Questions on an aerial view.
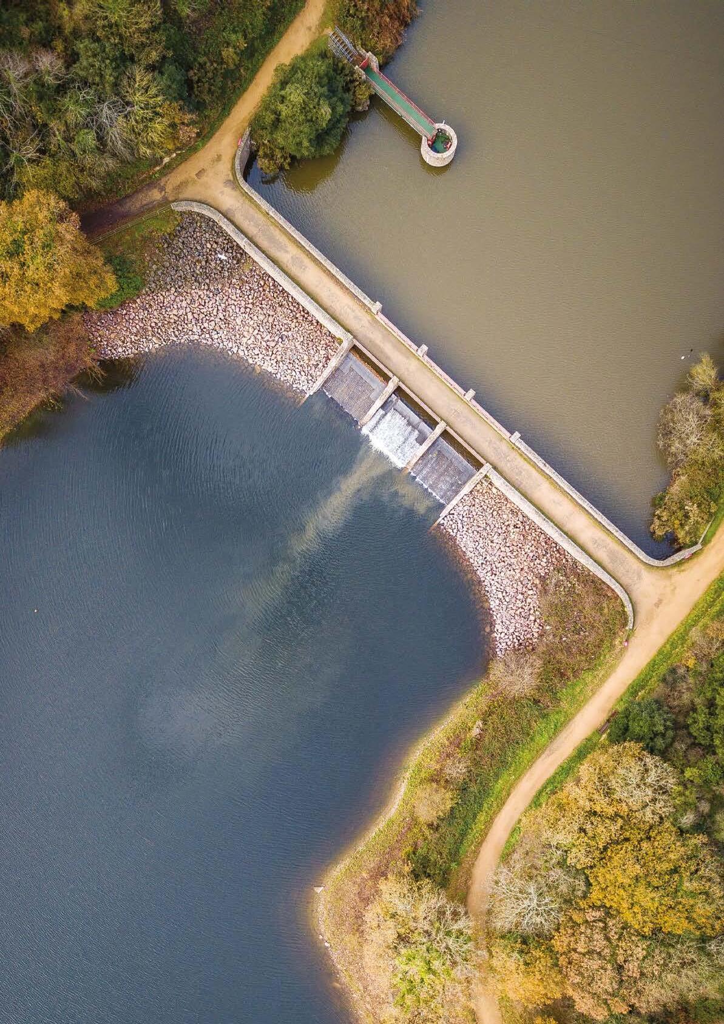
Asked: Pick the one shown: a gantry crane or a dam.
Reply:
dam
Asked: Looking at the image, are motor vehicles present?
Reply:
No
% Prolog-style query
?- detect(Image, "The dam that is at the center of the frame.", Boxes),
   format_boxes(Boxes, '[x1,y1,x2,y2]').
[306,296,527,521]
